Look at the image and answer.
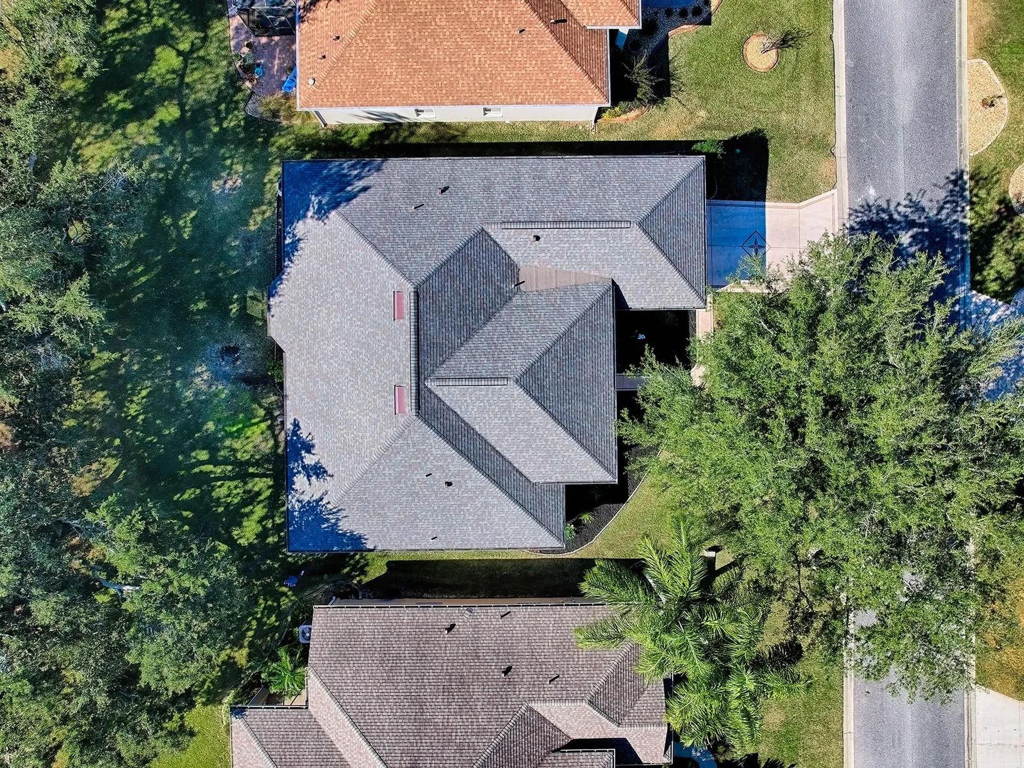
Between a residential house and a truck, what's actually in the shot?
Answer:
residential house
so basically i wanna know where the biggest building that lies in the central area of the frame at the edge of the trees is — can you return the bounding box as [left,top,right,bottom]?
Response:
[265,153,708,552]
